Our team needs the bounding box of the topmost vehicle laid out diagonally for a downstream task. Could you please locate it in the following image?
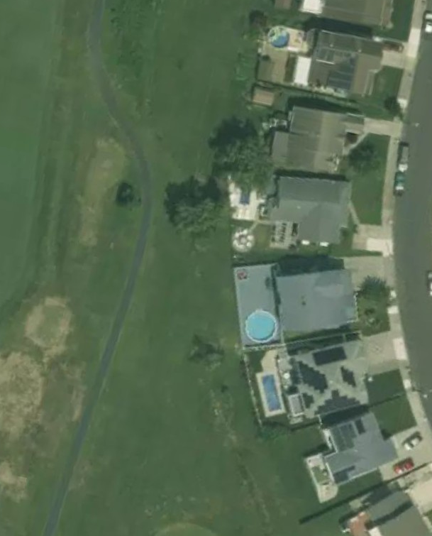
[402,432,424,449]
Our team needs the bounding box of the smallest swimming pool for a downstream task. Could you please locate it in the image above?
[268,26,290,48]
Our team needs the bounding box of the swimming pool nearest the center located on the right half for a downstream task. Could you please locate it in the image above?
[245,310,277,342]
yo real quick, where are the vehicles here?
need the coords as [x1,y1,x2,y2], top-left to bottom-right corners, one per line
[394,171,404,194]
[382,42,404,52]
[398,141,410,170]
[402,432,424,449]
[392,458,415,474]
[424,11,432,33]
